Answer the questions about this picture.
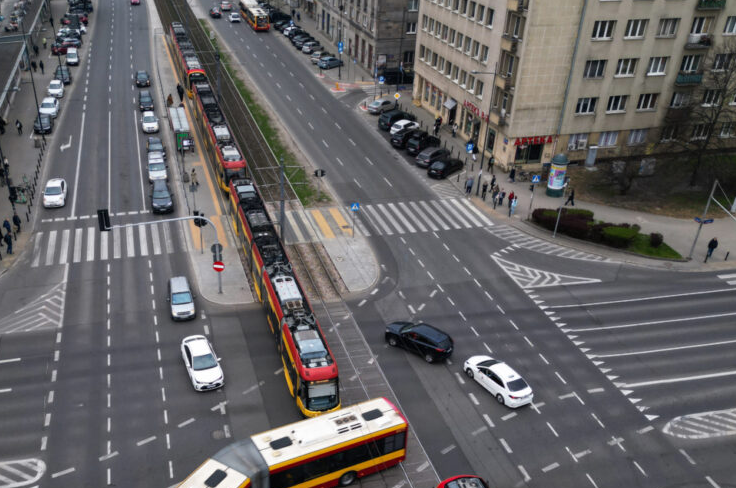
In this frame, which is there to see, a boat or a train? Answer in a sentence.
The image shows a train.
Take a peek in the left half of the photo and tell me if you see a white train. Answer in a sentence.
No, the scene shows no white train in the left half of the photo.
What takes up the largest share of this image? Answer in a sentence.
The largest share of the image is taken up by paved ground.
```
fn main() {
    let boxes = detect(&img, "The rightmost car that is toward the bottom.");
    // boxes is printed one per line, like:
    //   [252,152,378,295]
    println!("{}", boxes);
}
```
[459,359,535,406]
